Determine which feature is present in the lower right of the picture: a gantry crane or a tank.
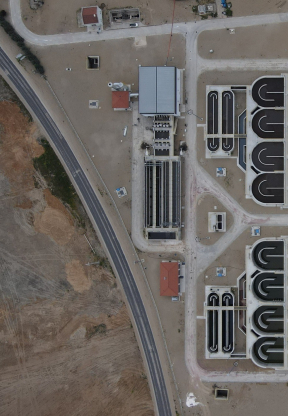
tank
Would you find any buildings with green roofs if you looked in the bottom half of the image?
No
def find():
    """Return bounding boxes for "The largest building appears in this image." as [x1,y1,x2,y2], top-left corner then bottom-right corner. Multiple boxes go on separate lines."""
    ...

[139,66,180,115]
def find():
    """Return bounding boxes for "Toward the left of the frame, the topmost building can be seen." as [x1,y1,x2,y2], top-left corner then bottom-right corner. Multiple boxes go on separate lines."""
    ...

[81,5,103,31]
